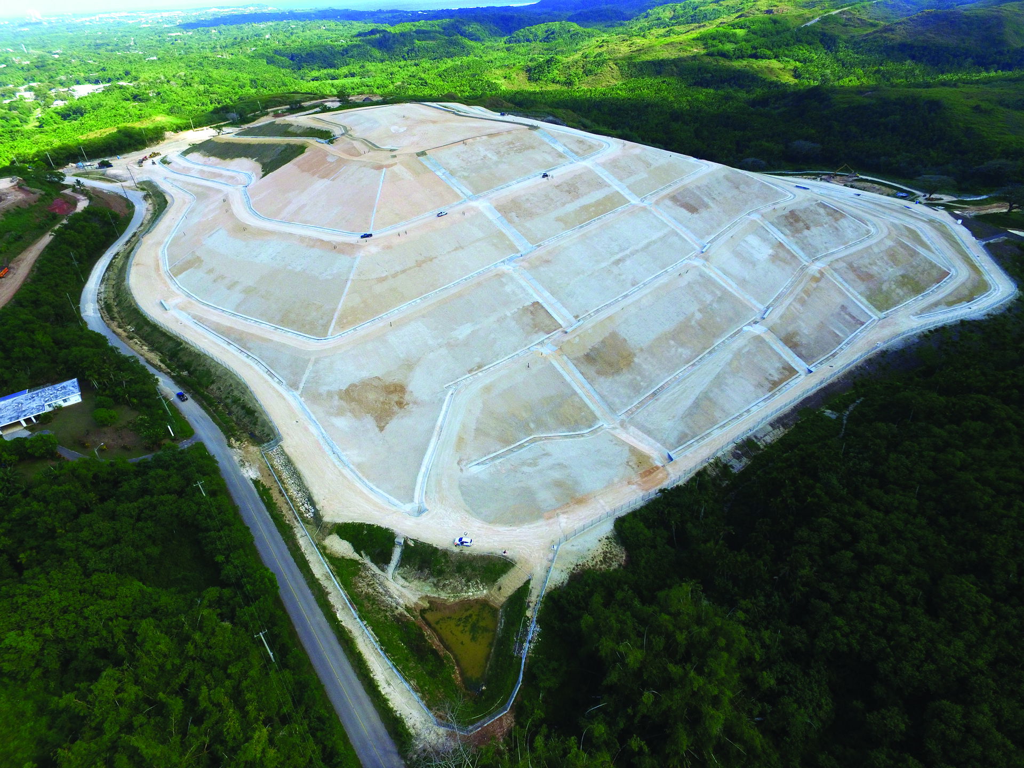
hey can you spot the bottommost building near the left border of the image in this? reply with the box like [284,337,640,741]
[0,377,82,433]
